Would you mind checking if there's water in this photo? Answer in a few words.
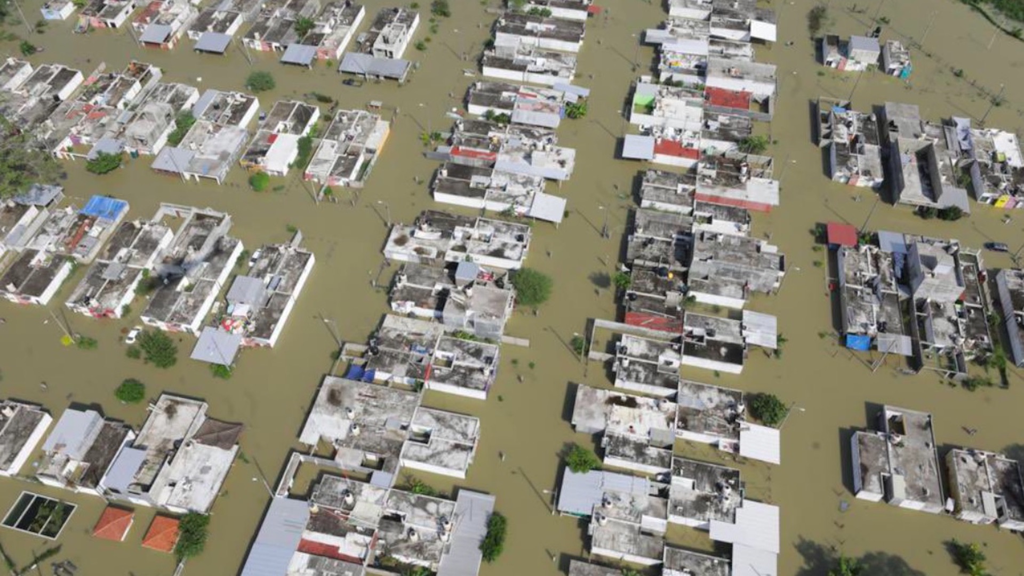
Yes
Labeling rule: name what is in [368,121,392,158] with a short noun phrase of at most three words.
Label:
house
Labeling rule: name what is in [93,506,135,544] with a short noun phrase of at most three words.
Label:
building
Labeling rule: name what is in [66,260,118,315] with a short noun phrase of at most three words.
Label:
house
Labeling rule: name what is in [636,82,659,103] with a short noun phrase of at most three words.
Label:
shed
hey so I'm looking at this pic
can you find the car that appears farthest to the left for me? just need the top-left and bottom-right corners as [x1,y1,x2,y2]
[125,326,143,346]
